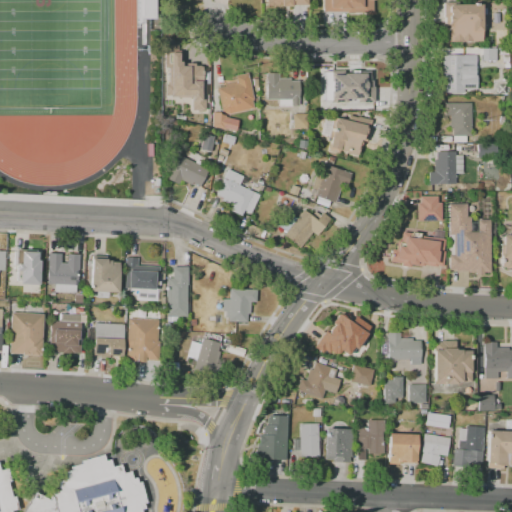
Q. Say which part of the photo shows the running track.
top left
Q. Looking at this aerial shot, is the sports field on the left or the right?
left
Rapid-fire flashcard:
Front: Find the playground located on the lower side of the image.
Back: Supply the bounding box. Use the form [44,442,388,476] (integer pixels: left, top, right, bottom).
[144,455,182,512]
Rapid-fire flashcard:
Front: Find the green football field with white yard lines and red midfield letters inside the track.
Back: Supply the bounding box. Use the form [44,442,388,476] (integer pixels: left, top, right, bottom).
[0,0,115,116]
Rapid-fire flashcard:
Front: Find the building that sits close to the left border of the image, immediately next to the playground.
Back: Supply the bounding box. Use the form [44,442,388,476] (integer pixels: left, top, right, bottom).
[26,454,150,512]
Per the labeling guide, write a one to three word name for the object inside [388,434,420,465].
house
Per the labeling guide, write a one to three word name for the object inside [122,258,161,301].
house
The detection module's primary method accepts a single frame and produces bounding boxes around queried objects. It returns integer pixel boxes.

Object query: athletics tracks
[0,0,138,186]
